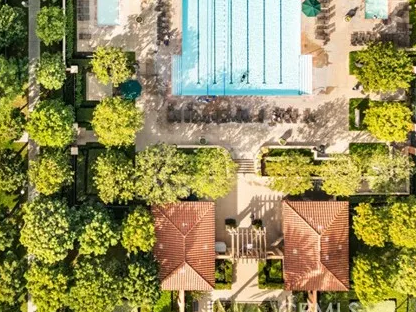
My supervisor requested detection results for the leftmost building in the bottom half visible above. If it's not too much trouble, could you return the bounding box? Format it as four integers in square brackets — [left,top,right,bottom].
[153,201,215,291]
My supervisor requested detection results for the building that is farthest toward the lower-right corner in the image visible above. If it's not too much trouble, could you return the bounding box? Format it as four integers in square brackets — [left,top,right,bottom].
[281,200,350,292]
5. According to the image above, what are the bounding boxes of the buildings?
[281,200,350,292]
[153,201,215,291]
